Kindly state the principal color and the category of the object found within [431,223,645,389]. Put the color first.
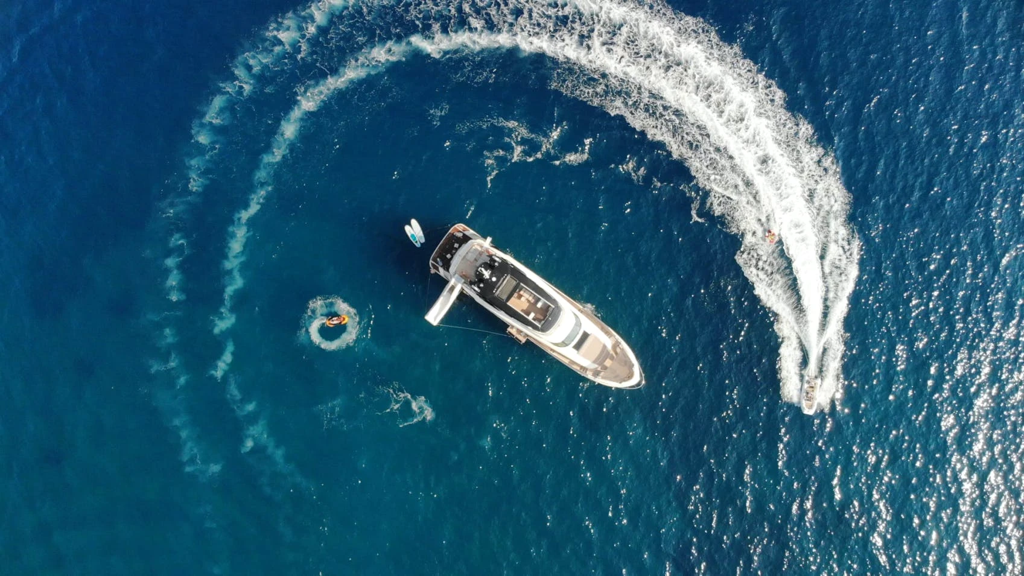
white boat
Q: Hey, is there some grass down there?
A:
No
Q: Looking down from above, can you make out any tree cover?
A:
No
